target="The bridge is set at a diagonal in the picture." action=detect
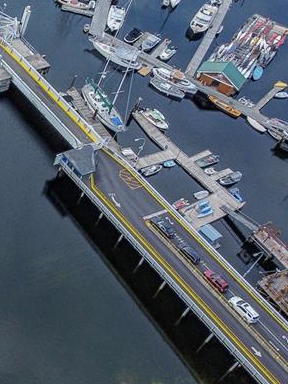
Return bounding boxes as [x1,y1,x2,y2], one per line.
[52,146,288,384]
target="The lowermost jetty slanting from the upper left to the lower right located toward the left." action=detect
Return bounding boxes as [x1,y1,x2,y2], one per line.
[68,90,121,155]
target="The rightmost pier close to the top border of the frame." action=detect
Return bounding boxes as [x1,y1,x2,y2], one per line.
[217,14,286,87]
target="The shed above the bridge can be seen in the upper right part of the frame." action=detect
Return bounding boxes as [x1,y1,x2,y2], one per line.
[199,53,249,96]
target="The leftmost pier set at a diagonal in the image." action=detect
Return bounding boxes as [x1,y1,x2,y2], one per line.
[0,38,50,75]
